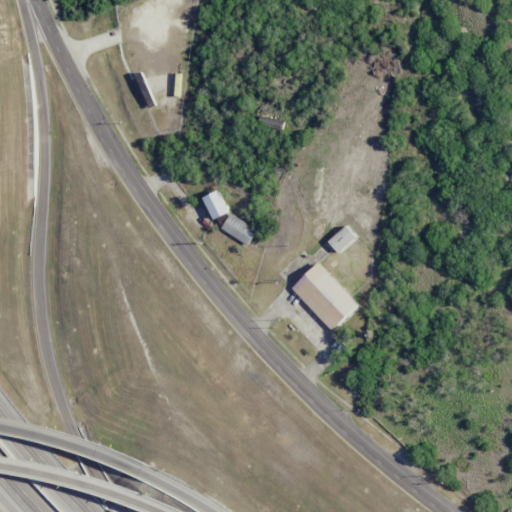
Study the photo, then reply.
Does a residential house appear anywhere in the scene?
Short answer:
Yes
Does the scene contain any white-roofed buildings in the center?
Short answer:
Yes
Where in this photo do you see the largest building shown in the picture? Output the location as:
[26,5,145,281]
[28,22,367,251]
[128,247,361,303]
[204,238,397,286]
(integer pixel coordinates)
[292,263,359,330]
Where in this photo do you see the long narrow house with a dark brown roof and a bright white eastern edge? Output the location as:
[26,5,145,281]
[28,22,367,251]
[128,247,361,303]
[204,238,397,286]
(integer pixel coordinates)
[134,71,158,108]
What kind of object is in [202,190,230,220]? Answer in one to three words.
house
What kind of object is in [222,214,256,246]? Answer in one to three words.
house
